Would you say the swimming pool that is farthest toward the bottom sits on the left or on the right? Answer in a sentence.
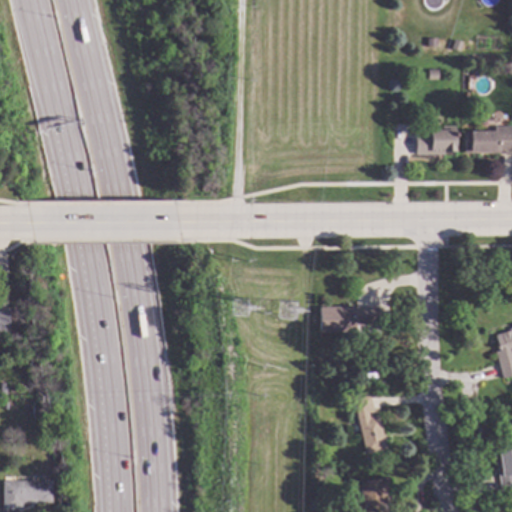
You can find the swimming pool that is farthest toward the bottom on the right side of the picture.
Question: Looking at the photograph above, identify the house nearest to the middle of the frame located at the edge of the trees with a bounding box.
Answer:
[318,307,370,335]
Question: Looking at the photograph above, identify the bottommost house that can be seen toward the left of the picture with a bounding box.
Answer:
[4,479,55,508]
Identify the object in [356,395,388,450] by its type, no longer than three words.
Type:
house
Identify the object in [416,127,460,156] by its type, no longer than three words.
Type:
house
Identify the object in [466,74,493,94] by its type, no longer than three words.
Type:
swimming pool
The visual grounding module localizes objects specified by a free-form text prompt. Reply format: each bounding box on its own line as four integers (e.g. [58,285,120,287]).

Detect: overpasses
[28,198,182,244]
